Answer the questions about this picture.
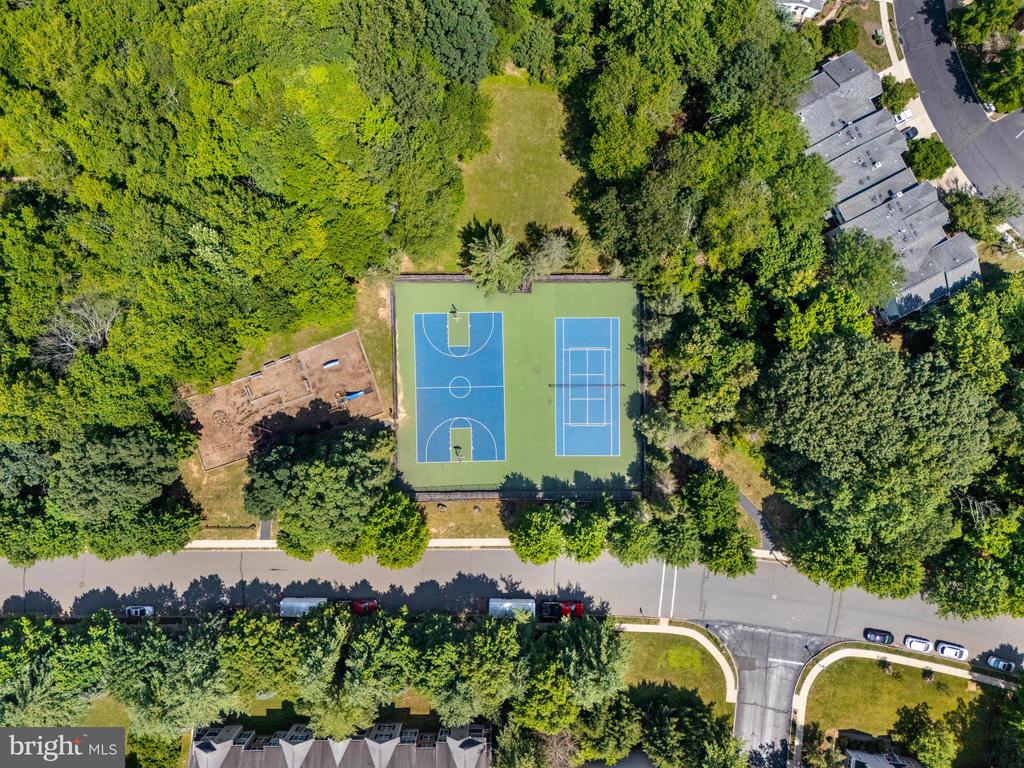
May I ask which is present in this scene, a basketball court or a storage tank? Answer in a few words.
basketball court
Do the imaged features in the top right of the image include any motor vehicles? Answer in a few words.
Yes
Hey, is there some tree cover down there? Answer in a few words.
Yes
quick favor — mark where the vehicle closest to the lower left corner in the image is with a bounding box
[123,605,152,619]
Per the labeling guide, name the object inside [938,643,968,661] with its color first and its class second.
white car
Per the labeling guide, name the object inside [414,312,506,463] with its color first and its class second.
blue basketball court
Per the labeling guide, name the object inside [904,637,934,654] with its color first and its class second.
white car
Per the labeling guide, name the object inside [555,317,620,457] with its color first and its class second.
blue tennis court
